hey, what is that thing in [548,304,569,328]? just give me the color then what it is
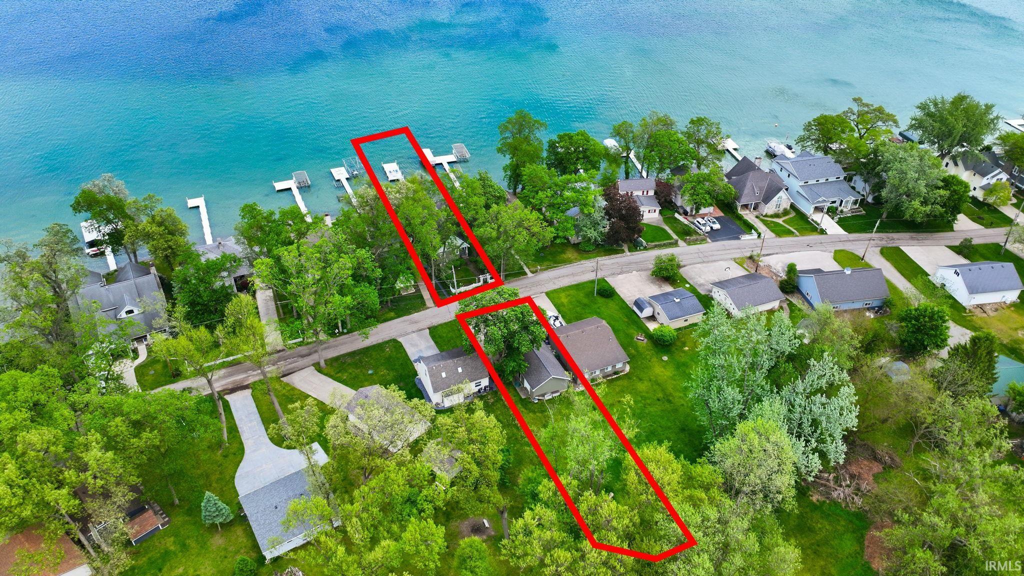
white boat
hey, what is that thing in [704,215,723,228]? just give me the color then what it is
white vehicle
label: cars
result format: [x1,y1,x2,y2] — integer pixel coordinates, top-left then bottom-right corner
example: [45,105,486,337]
[694,218,712,231]
[704,215,723,228]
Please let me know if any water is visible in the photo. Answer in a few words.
Yes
